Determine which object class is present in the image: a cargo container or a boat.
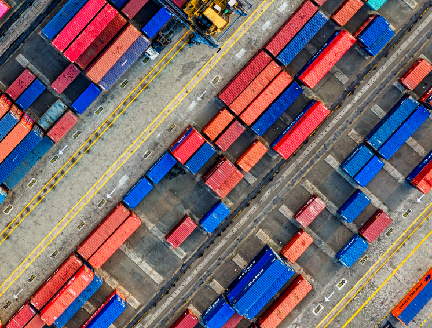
cargo container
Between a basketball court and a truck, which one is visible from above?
truck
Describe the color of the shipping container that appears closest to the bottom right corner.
blue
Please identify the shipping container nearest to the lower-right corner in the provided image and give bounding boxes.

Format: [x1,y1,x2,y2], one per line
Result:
[393,269,432,326]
